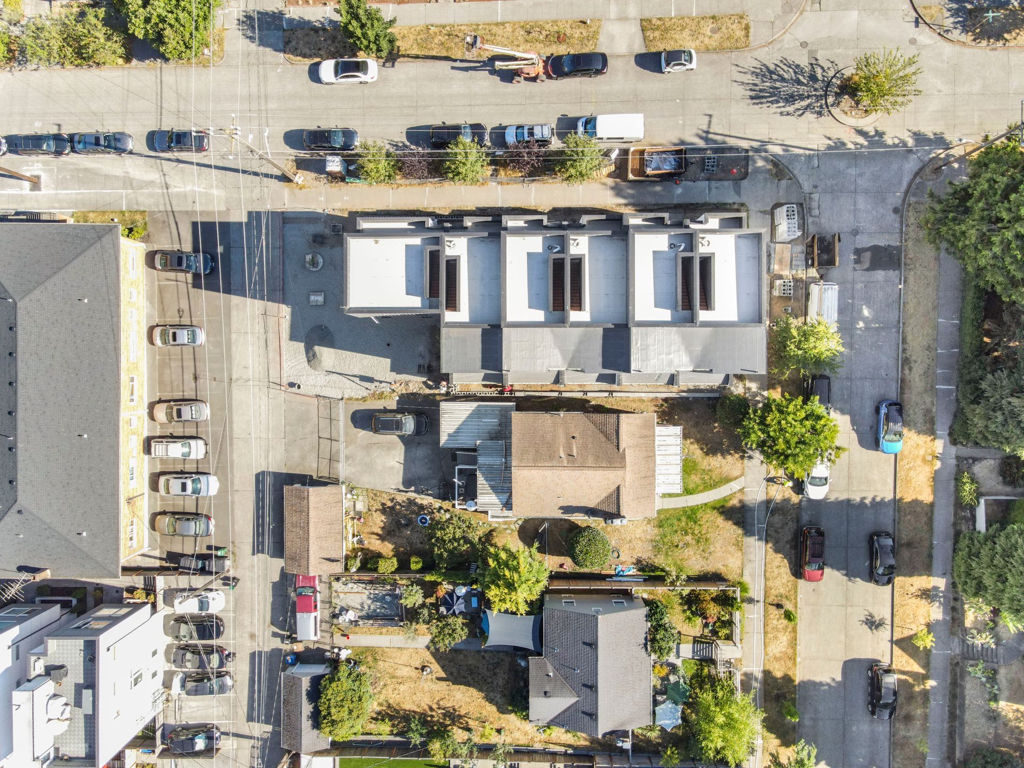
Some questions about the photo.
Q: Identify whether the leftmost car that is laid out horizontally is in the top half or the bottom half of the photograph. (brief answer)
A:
top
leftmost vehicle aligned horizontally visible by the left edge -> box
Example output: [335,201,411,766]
[7,129,74,159]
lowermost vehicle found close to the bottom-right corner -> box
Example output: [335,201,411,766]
[867,661,899,719]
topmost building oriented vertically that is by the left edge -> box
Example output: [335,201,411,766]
[0,223,148,580]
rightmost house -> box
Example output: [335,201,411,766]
[618,213,768,385]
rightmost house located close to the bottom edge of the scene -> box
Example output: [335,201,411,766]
[529,595,652,737]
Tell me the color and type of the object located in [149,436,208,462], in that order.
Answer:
white car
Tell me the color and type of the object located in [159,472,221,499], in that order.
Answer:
white car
